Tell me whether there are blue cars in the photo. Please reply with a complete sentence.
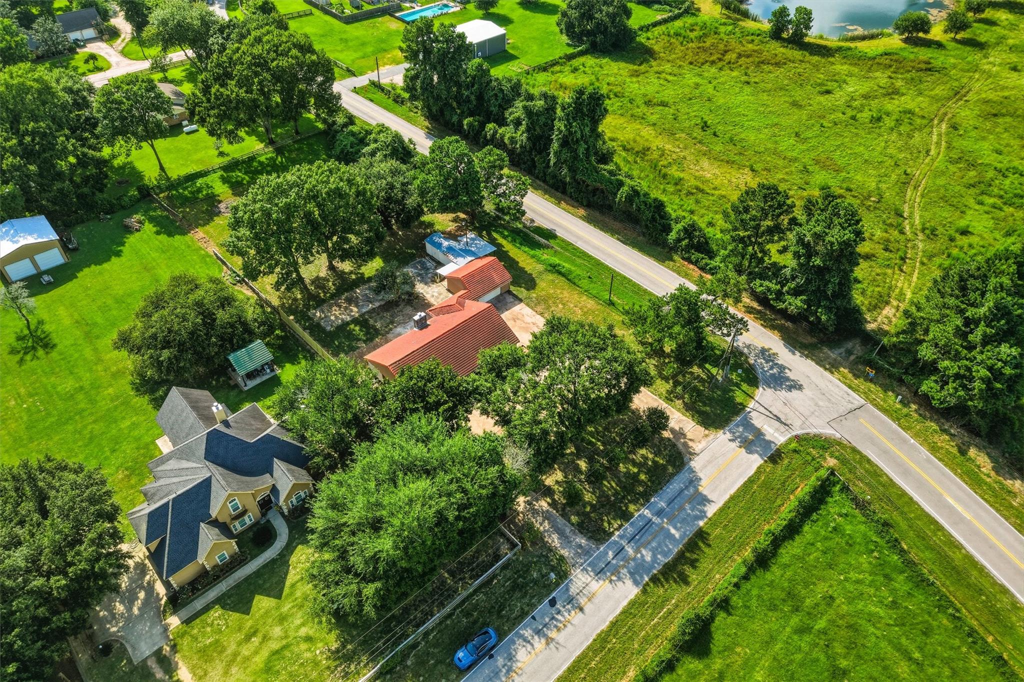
Yes, I can see a blue car in this picture.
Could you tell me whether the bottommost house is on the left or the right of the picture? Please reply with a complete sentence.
The bottommost house is on the left side of the image.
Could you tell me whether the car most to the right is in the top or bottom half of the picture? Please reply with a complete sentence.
You can find the car most to the right in the bottom half.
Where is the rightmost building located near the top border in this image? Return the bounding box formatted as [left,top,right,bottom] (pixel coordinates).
[450,17,511,56]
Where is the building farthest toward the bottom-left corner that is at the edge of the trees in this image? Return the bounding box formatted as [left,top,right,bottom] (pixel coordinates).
[129,385,317,589]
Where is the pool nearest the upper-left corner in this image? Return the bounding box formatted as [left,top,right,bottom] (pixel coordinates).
[395,0,470,25]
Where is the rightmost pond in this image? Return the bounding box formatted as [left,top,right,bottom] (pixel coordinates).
[745,0,957,39]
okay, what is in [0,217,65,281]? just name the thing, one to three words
building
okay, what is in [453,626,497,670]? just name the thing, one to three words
car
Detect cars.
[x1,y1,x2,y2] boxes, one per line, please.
[72,35,85,45]
[453,626,497,670]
